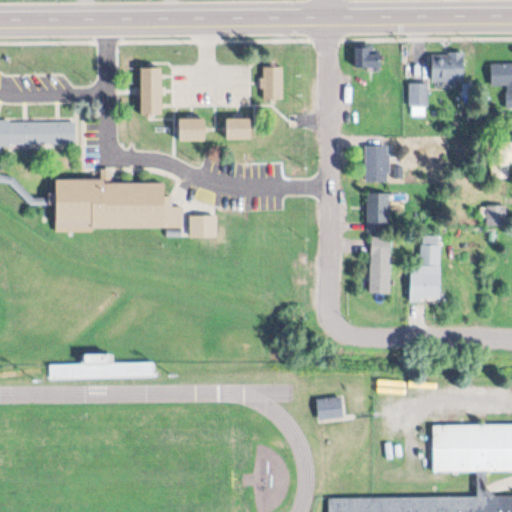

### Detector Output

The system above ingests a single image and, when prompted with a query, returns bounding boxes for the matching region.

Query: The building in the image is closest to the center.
[190,214,218,239]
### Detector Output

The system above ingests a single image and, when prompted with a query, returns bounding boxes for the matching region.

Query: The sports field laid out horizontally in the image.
[0,406,241,512]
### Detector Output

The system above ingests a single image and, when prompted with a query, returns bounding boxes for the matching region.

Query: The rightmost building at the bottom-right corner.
[432,424,512,475]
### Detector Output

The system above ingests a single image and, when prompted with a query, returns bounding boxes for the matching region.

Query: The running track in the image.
[0,386,315,512]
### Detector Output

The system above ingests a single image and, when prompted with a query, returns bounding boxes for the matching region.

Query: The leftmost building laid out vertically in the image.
[140,67,162,115]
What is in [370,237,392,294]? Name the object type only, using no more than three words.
house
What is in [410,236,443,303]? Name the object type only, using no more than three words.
house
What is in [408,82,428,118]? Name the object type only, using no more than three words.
building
